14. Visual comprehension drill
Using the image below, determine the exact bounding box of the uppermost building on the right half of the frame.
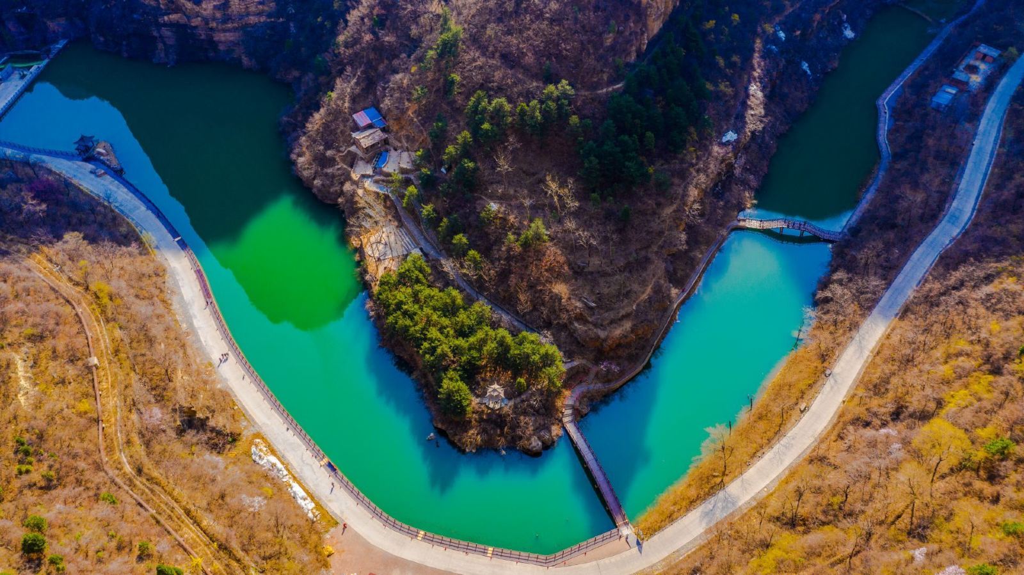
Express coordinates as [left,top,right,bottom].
[972,44,1001,67]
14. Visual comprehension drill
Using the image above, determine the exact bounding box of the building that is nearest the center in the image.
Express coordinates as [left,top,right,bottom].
[482,382,508,413]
